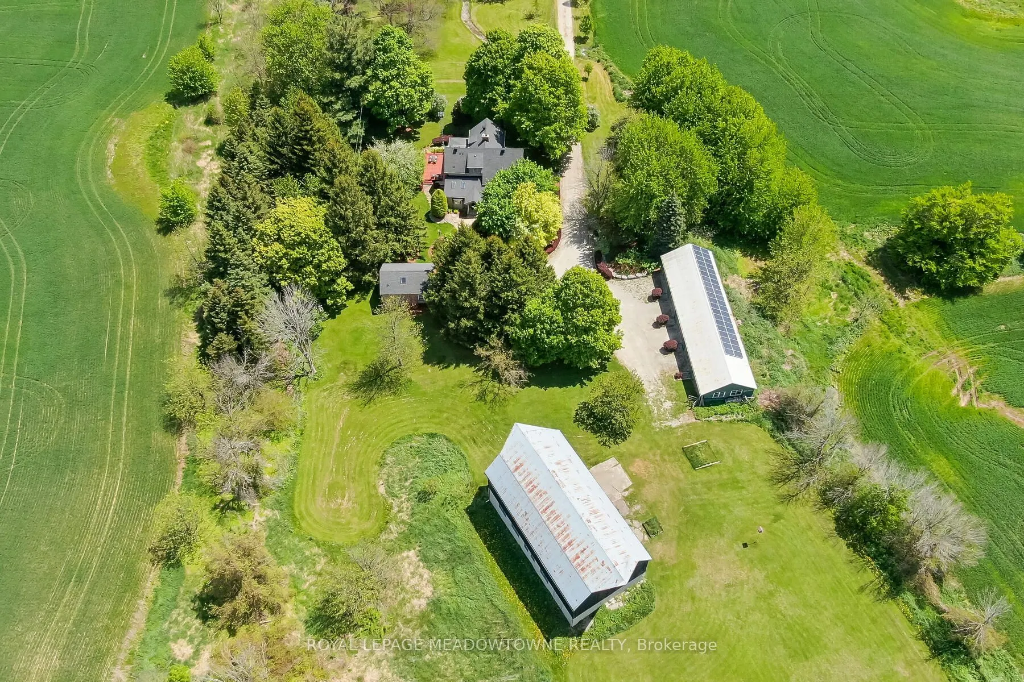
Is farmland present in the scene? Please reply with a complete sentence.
Yes, farmland can be seen from above here.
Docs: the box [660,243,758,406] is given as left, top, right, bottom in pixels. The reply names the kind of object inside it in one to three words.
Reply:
shed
